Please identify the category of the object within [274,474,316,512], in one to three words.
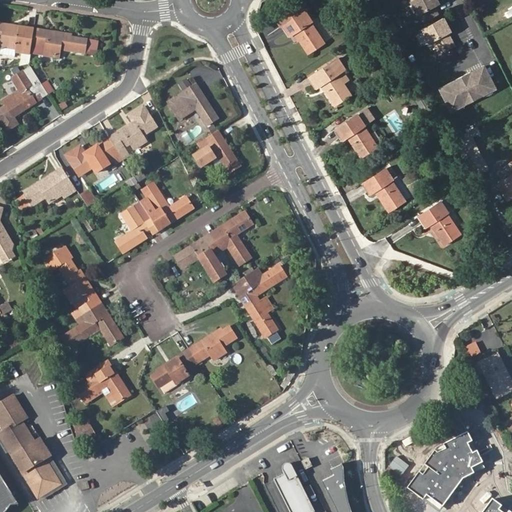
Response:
building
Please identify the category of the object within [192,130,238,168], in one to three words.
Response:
house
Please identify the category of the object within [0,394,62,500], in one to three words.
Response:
building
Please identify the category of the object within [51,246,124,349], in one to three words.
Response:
house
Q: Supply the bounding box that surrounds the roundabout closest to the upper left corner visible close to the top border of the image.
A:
[163,0,254,50]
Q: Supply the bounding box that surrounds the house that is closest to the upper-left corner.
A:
[0,22,34,54]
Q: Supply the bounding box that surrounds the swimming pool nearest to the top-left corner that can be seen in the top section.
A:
[97,173,120,192]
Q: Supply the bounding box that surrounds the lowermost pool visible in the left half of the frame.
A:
[176,392,199,413]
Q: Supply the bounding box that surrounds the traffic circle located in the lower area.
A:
[306,295,444,434]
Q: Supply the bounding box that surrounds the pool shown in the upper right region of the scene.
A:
[386,111,404,136]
